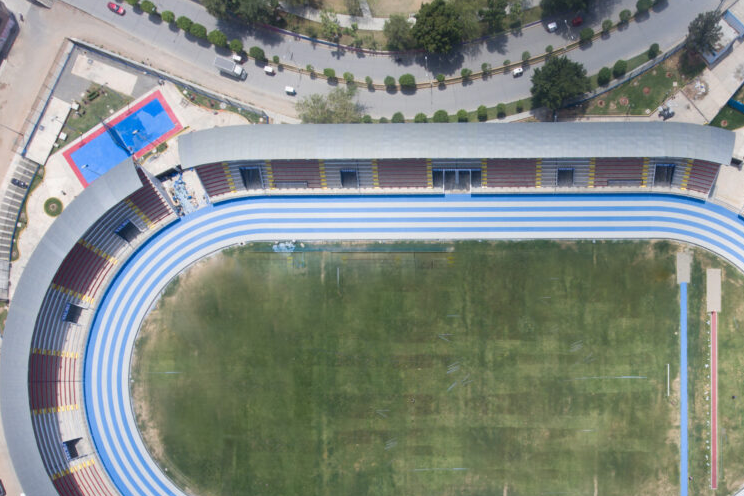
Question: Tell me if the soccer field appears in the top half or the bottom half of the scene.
bottom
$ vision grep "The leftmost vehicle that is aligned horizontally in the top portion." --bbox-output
[9,178,32,191]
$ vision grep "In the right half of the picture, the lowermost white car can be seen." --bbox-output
[510,65,525,79]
